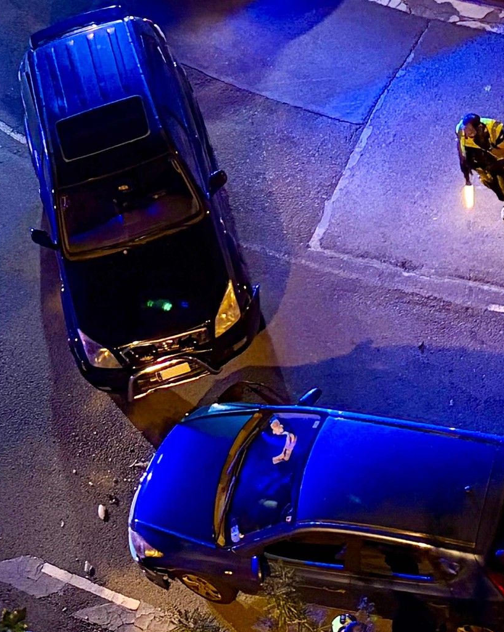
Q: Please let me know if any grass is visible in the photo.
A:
No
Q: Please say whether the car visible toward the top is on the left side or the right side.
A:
left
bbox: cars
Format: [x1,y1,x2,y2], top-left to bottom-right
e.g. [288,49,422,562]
[127,396,504,632]
[23,0,258,408]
